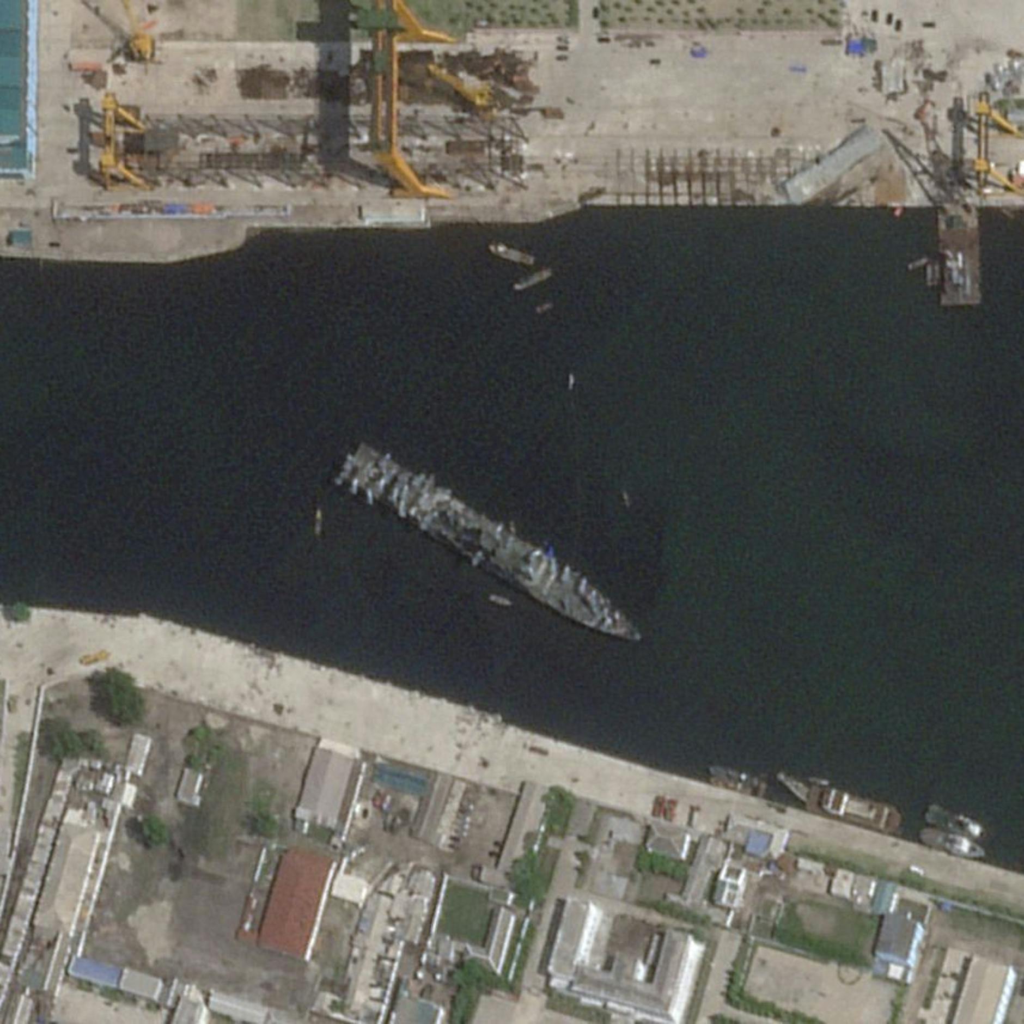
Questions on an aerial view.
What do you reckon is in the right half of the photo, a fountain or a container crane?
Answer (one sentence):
Looking in the right half of the photo, you will find a container crane.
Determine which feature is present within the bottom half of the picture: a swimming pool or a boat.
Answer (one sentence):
What appears within the bottom half of the picture is a boat.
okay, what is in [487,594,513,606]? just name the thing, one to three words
boat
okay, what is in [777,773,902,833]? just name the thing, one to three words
ship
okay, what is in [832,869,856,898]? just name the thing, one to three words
house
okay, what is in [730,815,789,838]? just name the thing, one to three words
building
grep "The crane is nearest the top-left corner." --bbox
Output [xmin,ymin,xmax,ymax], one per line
[126,0,165,65]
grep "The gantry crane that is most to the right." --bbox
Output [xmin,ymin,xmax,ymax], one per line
[971,90,1024,194]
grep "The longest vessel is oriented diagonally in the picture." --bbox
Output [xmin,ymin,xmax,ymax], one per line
[335,443,641,641]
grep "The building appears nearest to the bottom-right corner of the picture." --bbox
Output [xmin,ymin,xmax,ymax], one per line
[950,954,1013,1024]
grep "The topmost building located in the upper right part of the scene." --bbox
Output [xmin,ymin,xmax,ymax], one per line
[882,60,905,93]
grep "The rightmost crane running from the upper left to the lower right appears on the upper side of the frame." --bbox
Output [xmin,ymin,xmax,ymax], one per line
[427,64,505,116]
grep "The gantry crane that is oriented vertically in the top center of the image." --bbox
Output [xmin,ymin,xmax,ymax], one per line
[359,0,456,201]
